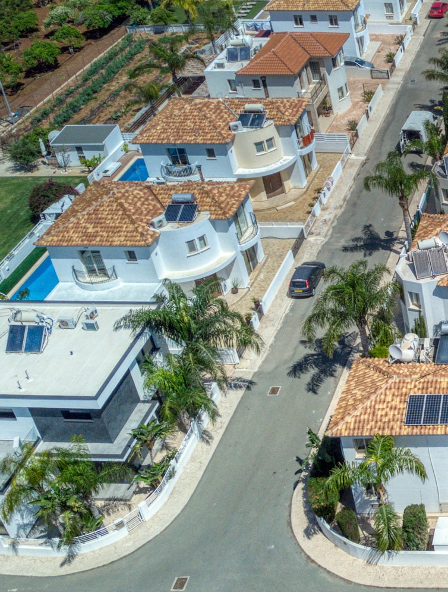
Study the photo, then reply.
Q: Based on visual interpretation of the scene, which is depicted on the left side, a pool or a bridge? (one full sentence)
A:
Looking on the left side, you will find a pool.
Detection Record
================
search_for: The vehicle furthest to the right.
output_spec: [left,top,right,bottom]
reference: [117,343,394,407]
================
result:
[431,1,448,16]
